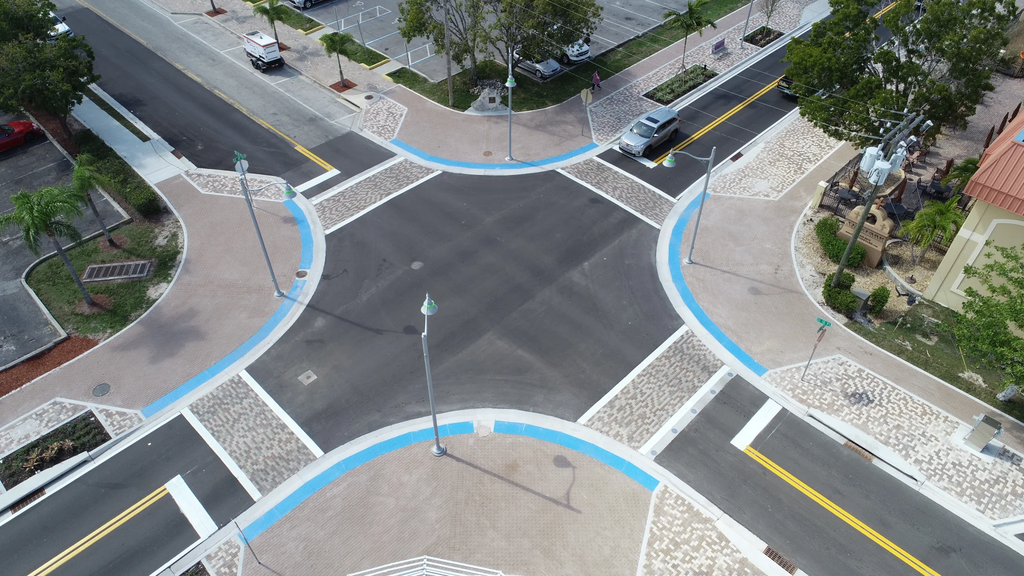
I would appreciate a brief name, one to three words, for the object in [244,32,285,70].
trailer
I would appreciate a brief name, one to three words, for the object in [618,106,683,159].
car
